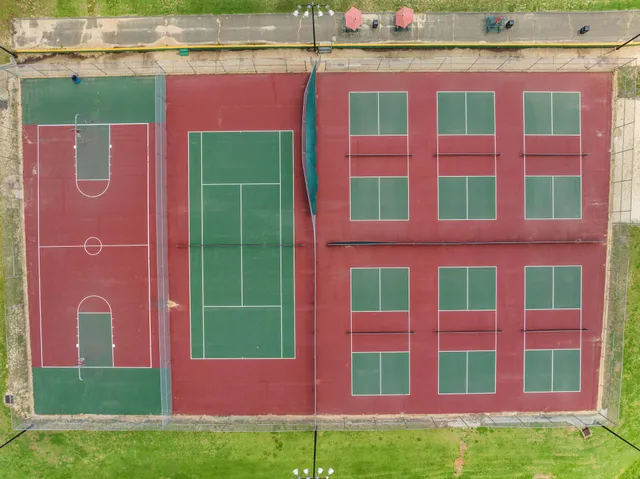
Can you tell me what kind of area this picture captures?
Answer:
sports ground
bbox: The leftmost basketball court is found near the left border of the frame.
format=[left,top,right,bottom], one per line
[20,74,171,415]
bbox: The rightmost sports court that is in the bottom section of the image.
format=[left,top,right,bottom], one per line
[524,266,582,393]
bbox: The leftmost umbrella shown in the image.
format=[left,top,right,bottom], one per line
[344,9,364,31]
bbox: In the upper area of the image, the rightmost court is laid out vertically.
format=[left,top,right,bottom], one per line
[524,91,582,219]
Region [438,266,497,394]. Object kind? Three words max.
sports court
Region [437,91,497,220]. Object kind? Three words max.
sports court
